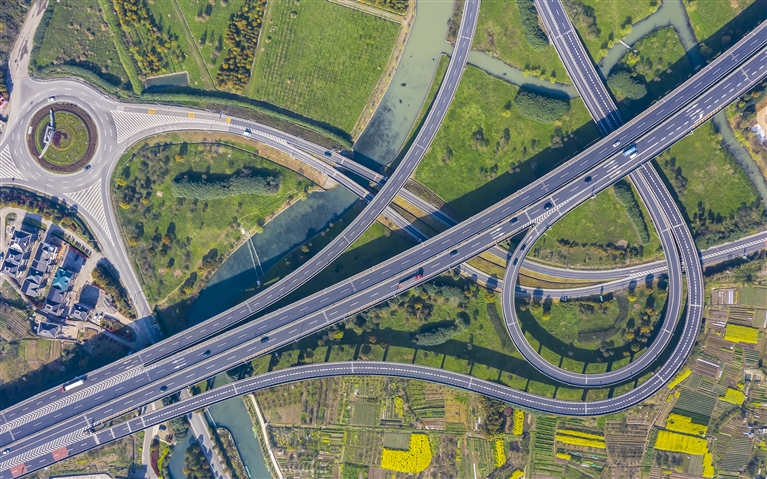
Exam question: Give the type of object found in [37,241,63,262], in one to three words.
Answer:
house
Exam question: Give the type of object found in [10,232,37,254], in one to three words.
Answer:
house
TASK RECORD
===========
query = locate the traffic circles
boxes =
[26,101,99,175]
